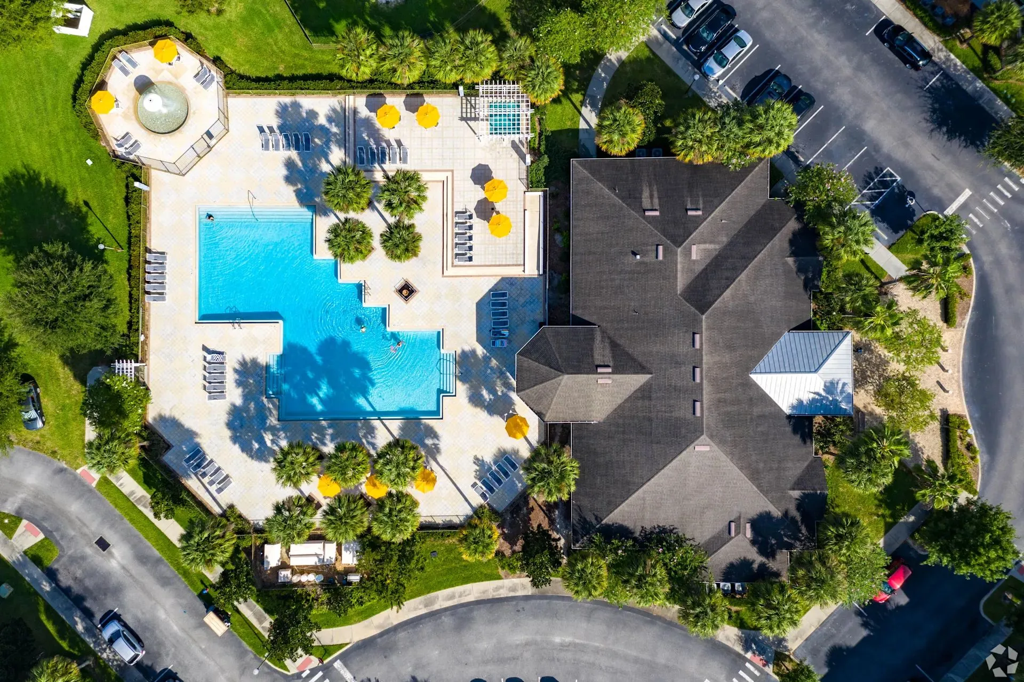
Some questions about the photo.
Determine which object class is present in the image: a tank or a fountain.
fountain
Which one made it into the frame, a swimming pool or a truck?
swimming pool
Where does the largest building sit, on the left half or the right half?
right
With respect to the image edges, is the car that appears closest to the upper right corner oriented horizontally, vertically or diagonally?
diagonally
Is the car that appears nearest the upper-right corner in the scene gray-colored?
No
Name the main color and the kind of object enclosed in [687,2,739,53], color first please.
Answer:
black car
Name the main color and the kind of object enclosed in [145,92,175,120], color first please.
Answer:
white fountain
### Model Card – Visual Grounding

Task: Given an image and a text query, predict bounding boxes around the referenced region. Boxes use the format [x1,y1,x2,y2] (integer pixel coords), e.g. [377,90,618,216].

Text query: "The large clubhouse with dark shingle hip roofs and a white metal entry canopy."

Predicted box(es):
[515,158,853,583]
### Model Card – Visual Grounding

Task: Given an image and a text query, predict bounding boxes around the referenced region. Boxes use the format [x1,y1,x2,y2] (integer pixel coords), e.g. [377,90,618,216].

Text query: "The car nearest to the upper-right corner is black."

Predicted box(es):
[881,22,934,72]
